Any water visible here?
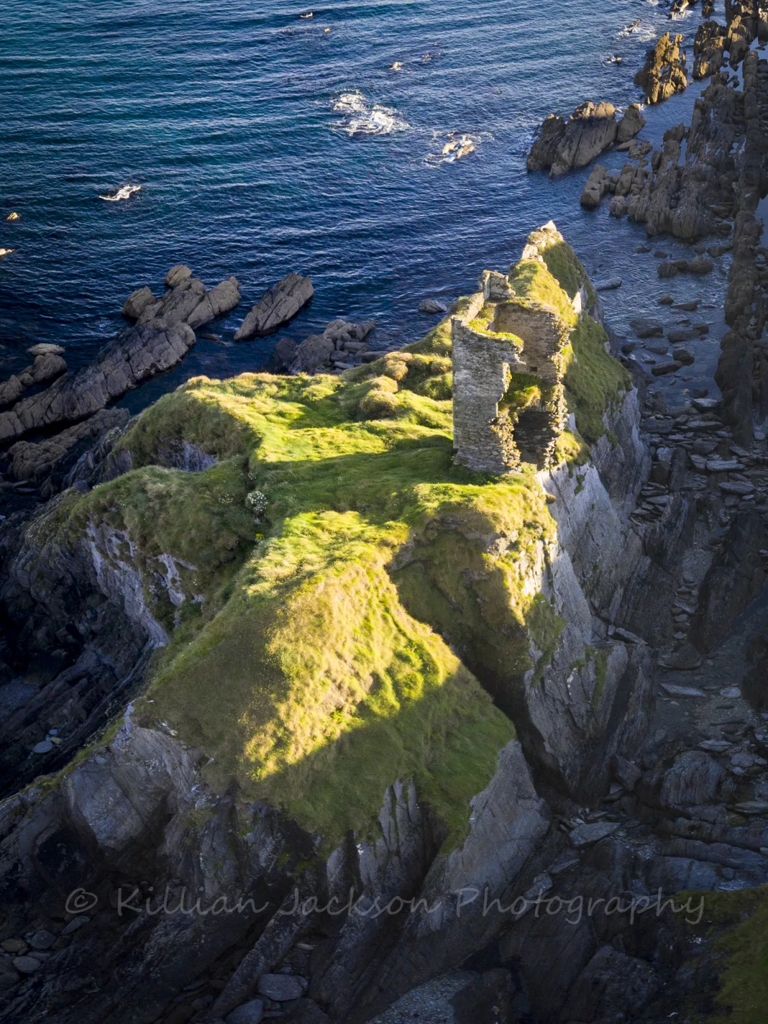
Yes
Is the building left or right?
right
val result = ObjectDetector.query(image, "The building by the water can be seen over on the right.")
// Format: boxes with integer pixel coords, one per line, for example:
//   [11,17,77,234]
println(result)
[451,257,574,481]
